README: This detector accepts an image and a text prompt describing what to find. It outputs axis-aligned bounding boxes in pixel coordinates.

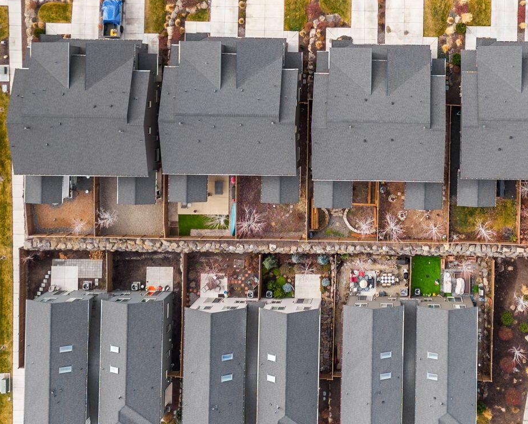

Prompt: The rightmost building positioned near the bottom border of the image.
[340,294,479,424]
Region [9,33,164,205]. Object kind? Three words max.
house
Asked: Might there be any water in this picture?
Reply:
No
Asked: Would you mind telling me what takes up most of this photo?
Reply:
buildings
